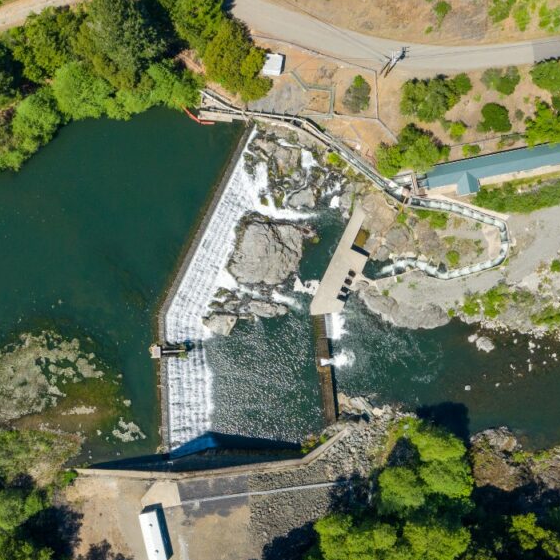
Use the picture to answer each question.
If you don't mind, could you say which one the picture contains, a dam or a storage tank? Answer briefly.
dam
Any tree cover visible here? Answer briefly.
Yes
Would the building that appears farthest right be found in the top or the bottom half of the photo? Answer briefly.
top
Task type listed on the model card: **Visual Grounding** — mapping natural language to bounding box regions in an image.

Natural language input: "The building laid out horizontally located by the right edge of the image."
[426,144,560,198]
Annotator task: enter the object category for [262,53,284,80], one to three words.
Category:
shed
